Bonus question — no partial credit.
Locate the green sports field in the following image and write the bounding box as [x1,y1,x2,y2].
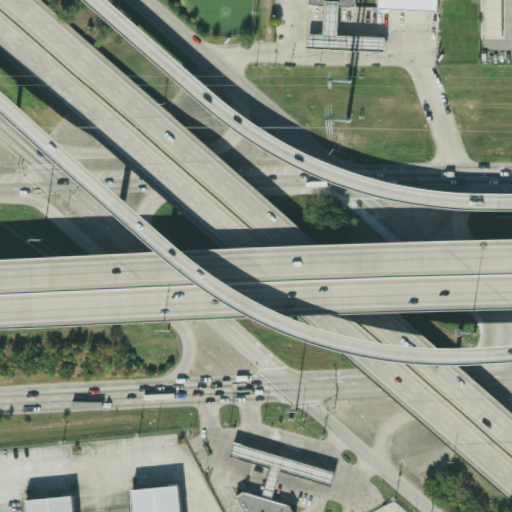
[186,0,250,36]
